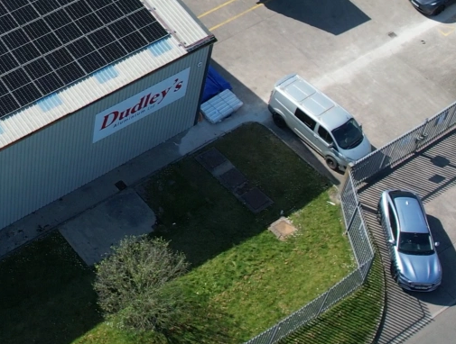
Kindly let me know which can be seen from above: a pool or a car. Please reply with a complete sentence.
The one in the frame is a car.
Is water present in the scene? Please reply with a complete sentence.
No, the picture contains no water.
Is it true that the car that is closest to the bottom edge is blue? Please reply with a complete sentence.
Yes, the car that is closest to the bottom edge appears blue.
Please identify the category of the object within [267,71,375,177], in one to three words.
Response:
van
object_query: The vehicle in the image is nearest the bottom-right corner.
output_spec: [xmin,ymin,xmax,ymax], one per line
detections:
[370,191,443,299]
